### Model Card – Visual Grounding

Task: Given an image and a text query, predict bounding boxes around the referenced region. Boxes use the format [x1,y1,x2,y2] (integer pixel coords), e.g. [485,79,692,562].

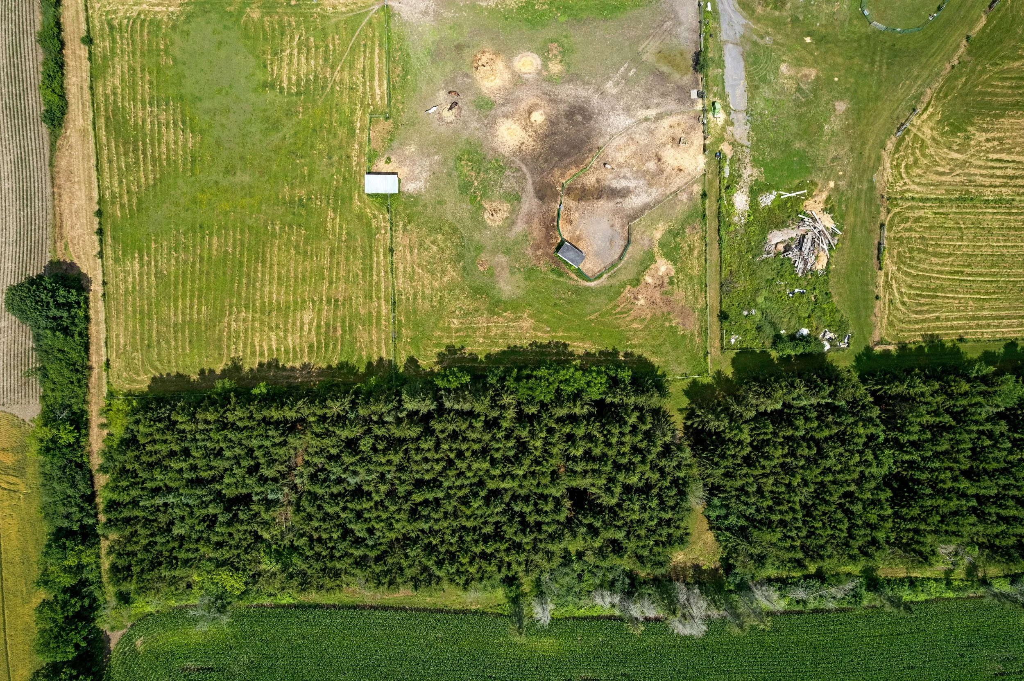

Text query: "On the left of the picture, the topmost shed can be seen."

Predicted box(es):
[365,174,399,195]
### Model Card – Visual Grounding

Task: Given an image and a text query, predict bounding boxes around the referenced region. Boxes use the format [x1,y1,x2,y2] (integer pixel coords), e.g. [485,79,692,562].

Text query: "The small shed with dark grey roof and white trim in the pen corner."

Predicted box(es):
[556,241,586,269]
